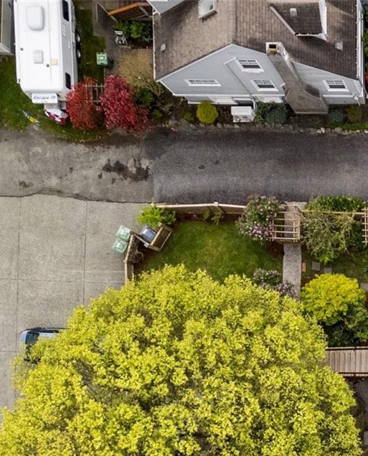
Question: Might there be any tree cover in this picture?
Yes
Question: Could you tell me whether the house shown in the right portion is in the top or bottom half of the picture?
top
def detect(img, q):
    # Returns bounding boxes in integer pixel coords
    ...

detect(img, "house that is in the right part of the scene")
[142,0,368,123]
